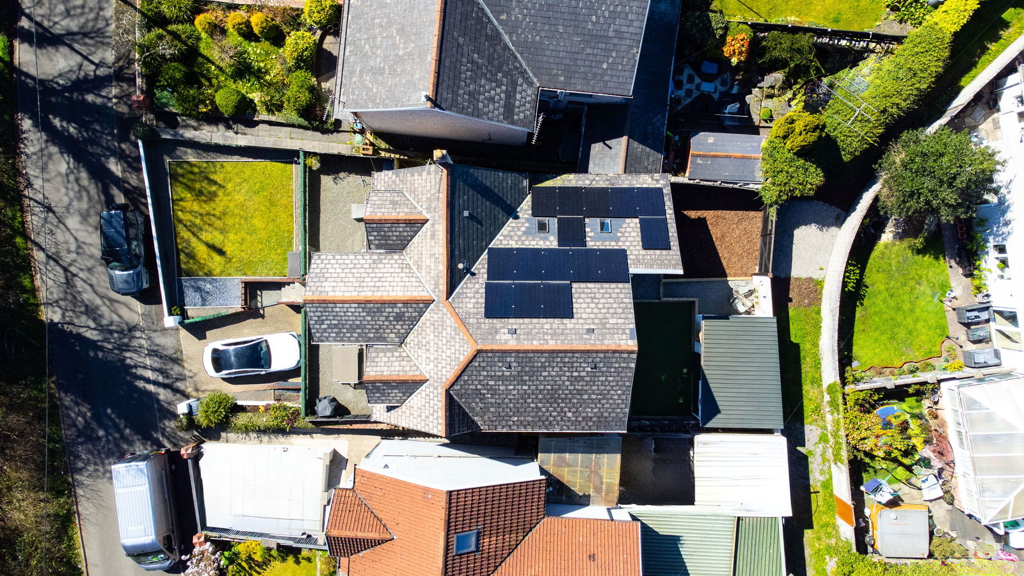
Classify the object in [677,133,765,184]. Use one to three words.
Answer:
shed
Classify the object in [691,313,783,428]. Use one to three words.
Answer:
shed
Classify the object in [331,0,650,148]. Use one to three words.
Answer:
house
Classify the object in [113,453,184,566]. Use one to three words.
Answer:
van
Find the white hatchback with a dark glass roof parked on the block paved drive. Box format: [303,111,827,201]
[203,330,300,376]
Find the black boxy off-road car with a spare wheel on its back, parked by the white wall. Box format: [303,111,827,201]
[99,202,162,296]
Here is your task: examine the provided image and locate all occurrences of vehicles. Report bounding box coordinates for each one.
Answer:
[113,453,184,566]
[203,330,300,376]
[99,202,162,296]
